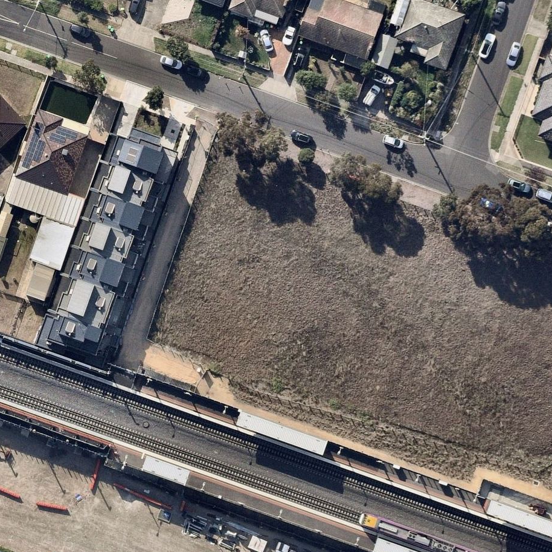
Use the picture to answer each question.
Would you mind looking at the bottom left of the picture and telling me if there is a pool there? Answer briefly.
No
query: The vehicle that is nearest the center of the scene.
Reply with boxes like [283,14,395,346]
[289,129,315,145]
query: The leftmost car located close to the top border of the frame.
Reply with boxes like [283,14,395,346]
[68,23,94,39]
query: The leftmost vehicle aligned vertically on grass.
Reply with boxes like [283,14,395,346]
[260,28,273,53]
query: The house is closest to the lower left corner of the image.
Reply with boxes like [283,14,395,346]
[36,314,103,356]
